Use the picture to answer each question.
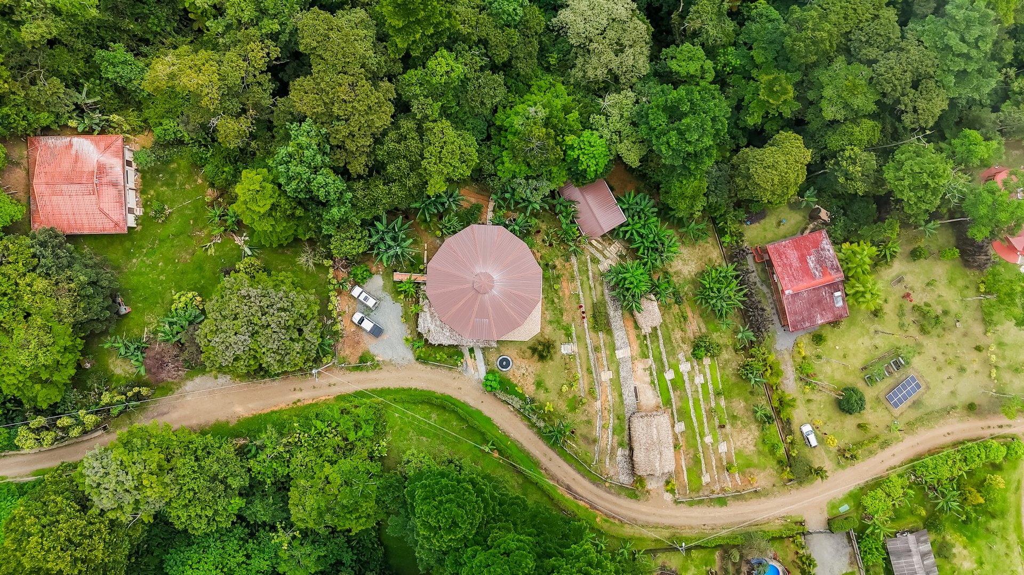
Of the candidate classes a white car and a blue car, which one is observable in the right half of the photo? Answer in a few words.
white car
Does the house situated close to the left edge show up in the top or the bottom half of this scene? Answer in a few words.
top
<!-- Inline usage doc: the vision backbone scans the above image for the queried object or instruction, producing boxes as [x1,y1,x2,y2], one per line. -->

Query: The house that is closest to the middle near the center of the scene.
[426,224,543,343]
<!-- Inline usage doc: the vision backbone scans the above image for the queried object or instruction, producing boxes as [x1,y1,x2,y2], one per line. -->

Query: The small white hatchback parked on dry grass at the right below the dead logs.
[799,421,819,450]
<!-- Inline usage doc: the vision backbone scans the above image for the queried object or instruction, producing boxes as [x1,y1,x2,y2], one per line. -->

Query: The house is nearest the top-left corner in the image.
[27,134,140,234]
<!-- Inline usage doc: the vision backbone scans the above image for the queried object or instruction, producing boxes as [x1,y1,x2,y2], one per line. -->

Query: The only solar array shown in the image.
[885,374,922,409]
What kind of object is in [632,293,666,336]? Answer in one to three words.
shed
